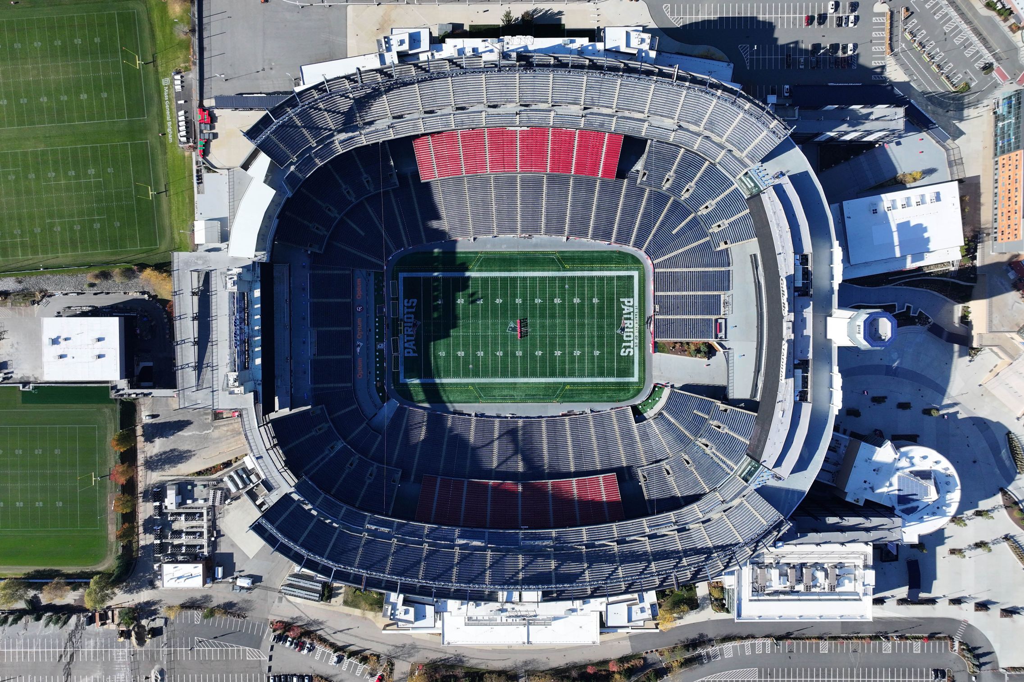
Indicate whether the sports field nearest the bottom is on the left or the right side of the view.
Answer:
left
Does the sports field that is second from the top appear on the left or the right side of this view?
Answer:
left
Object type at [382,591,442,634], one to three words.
building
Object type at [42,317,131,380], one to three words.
shed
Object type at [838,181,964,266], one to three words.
building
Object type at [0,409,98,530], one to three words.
sports field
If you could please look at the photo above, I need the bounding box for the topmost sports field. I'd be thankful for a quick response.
[0,10,146,129]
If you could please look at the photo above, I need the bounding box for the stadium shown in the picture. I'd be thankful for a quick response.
[225,40,841,608]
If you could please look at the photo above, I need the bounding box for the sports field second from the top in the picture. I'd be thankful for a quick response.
[0,141,159,259]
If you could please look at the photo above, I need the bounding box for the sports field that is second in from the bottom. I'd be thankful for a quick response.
[384,235,655,421]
